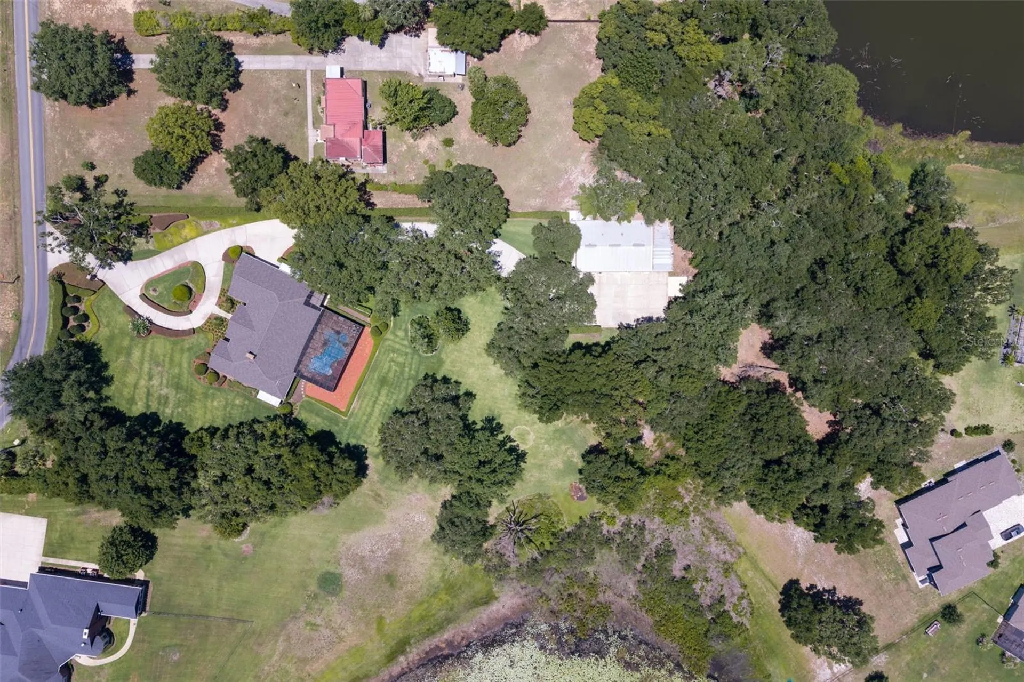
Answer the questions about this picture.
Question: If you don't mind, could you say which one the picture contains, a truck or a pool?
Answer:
pool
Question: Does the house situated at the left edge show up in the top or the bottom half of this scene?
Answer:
bottom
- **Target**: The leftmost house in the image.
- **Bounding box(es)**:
[0,572,147,682]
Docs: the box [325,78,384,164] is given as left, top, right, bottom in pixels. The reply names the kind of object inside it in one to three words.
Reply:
house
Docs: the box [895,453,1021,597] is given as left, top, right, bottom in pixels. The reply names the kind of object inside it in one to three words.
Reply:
house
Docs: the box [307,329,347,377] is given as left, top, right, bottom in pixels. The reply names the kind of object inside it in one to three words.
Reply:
swimming pool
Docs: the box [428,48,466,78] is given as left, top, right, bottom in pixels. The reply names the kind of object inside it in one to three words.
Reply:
shed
